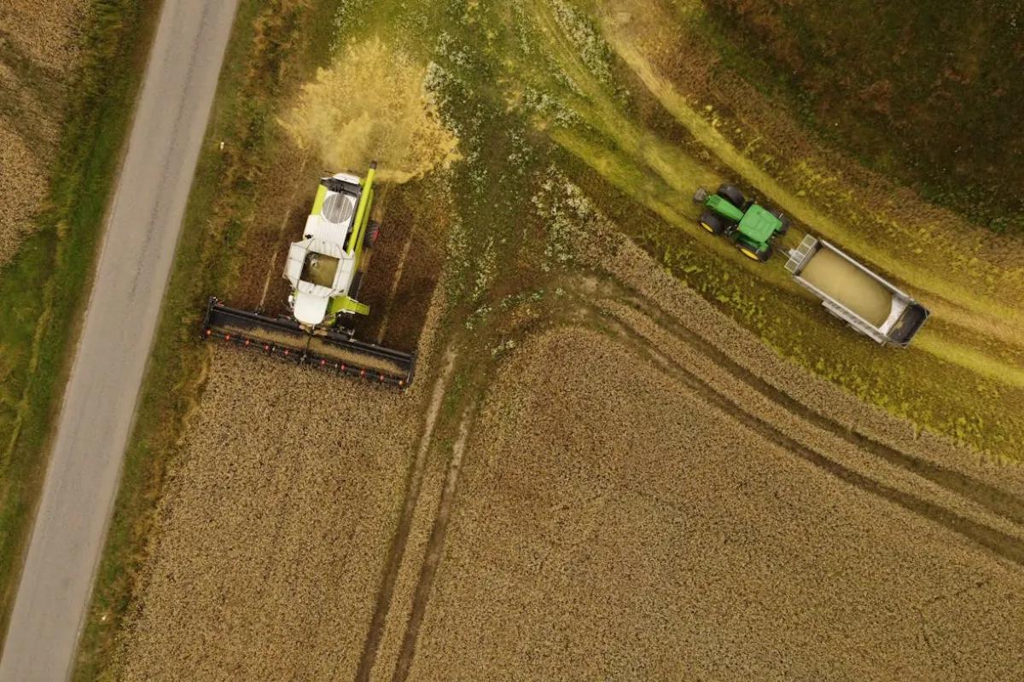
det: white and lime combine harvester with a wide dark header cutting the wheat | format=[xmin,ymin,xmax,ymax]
[200,160,420,398]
